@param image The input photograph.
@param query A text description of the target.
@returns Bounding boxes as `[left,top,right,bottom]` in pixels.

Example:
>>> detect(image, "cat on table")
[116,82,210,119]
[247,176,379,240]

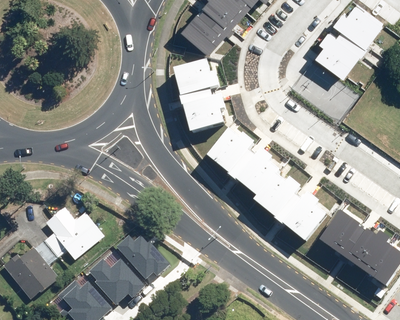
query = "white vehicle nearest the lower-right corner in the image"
[388,197,400,215]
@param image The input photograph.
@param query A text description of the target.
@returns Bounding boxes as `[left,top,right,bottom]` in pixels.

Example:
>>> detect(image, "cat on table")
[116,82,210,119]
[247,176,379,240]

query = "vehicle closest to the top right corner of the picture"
[371,1,385,15]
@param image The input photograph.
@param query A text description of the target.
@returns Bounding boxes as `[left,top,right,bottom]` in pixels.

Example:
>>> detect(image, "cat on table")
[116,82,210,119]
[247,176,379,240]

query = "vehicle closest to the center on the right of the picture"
[268,116,283,133]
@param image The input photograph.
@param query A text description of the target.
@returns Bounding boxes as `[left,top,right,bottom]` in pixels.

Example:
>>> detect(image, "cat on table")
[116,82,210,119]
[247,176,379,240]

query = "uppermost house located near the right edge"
[334,4,384,52]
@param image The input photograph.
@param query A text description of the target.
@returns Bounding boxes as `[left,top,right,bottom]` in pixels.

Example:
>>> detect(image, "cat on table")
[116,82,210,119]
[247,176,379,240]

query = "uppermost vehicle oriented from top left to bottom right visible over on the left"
[75,162,92,175]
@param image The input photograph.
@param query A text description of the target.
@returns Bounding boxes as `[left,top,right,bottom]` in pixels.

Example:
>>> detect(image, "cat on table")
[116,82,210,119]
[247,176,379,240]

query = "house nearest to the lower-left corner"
[6,248,56,298]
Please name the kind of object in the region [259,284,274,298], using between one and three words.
car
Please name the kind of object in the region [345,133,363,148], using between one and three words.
vehicle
